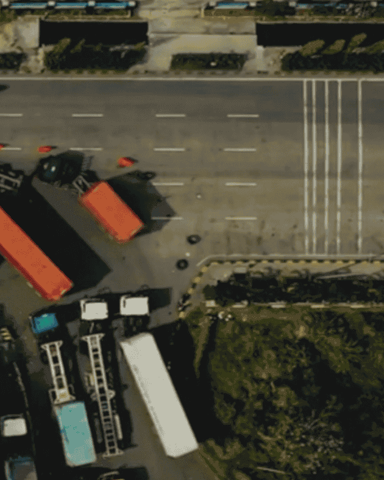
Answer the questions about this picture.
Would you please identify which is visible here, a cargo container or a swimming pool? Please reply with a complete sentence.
Looking from above, you can make out a cargo container.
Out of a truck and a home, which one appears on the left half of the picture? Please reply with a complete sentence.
The feature located on the left half of the picture is a truck.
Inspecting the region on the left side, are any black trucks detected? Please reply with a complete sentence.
Yes, a black truck can be seen on the left side.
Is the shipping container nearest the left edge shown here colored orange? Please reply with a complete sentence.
Yes, the shipping container nearest the left edge is indeed orange.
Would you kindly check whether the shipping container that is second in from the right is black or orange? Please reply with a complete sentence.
From above, the shipping container that is second in from the right appears orange.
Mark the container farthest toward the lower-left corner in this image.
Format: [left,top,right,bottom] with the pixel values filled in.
[51,400,93,466]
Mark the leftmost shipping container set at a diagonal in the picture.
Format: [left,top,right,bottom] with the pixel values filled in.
[0,209,72,301]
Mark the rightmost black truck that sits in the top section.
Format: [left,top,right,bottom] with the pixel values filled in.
[34,150,99,197]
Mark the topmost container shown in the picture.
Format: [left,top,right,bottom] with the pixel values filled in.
[76,181,142,245]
